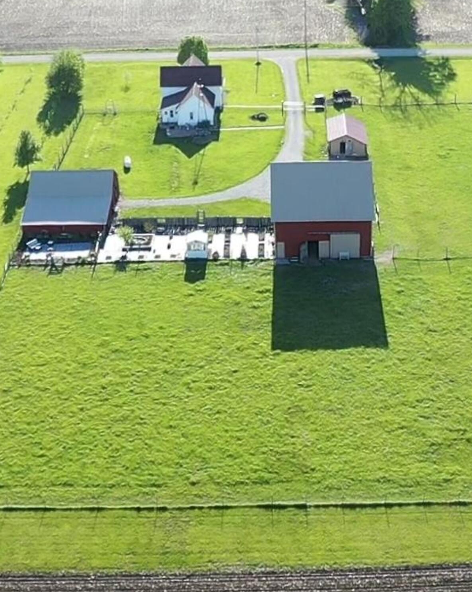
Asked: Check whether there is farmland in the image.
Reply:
Yes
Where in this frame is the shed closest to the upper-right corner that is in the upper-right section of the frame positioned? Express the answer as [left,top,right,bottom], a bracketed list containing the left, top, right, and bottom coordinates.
[328,109,369,156]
